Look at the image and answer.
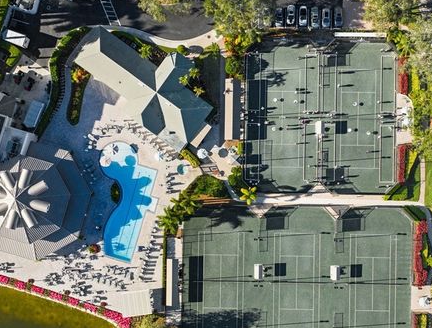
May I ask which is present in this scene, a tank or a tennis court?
tennis court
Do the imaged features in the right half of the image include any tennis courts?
Yes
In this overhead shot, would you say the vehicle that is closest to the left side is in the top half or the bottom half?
top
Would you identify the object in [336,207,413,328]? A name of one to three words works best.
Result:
tennis court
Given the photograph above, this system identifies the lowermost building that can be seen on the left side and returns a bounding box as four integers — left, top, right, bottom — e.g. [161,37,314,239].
[103,289,155,319]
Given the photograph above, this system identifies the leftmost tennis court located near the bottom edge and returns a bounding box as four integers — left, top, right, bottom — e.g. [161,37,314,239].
[181,206,260,328]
